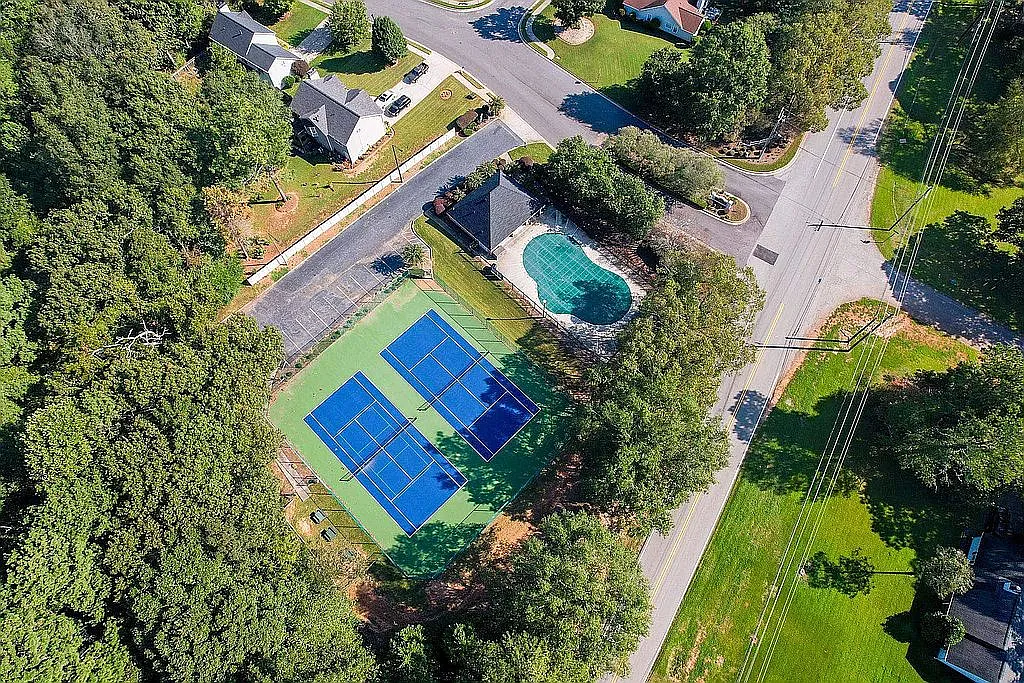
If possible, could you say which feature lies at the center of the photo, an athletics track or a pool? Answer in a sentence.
There is a pool at the center of the photo.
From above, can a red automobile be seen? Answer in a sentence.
No, there isn't any red automobile down there.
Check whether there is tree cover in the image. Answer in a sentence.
Yes, some tree cover is visible.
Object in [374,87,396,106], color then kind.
white car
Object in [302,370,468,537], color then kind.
blue tennis court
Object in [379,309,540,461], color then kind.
blue tennis court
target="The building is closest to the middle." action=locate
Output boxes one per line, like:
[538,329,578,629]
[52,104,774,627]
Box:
[445,168,546,256]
